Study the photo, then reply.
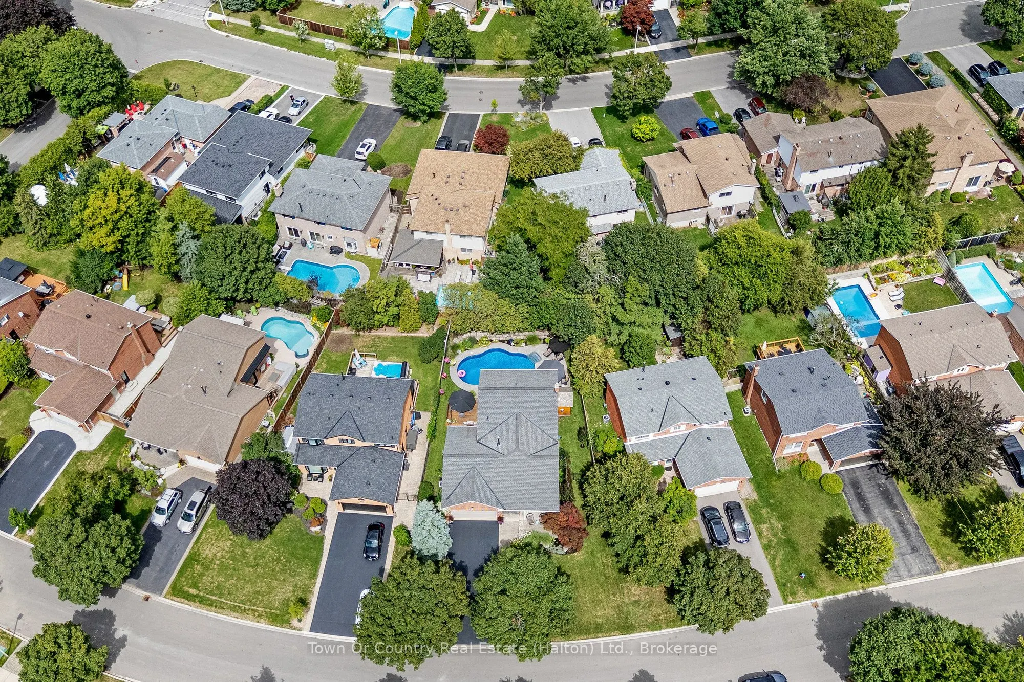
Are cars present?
Yes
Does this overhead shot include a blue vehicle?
Yes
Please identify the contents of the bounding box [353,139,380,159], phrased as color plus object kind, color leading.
white car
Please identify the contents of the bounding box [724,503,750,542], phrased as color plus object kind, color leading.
gray car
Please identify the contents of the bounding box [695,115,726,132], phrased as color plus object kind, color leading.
blue vehicle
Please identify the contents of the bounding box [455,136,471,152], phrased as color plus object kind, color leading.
gray vehicle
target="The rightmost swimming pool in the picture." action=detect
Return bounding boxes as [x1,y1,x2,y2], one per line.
[954,259,1018,314]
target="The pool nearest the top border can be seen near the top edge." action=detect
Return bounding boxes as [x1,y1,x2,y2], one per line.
[379,4,417,39]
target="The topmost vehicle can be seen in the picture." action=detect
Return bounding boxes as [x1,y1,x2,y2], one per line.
[649,14,662,38]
